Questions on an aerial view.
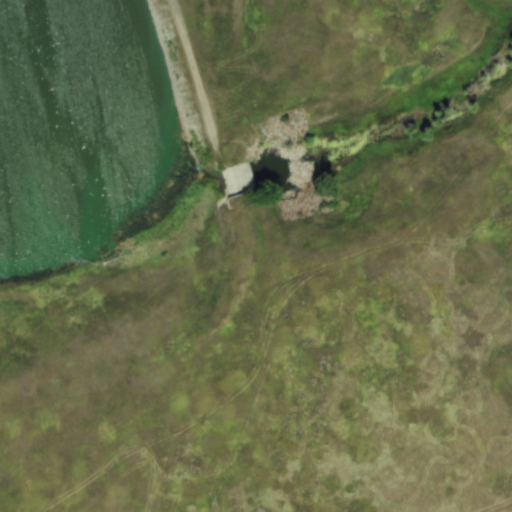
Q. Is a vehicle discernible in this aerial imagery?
No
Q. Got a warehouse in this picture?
No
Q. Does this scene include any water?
Yes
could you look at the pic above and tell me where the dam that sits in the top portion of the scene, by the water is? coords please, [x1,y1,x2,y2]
[148,0,227,154]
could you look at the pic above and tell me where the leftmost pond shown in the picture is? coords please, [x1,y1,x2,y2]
[0,0,222,283]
